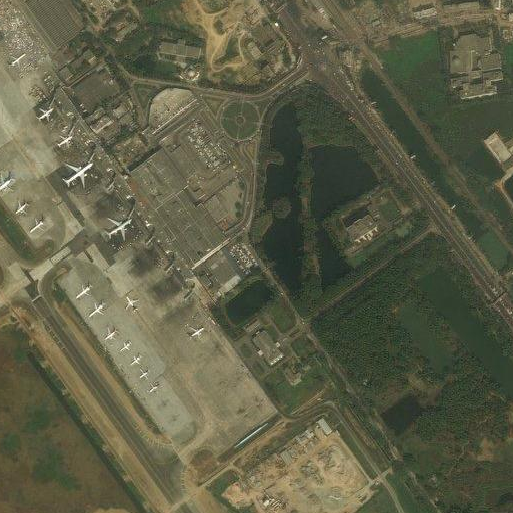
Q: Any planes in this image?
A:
Yes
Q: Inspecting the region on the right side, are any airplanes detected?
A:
No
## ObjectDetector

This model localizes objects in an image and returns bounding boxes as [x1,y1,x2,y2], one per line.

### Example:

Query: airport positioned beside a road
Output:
[0,0,276,513]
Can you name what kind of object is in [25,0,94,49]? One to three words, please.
hangar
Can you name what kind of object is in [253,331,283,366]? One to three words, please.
building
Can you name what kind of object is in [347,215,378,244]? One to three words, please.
house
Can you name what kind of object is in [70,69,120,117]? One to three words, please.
building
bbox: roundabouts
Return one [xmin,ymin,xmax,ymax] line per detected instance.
[221,101,260,139]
